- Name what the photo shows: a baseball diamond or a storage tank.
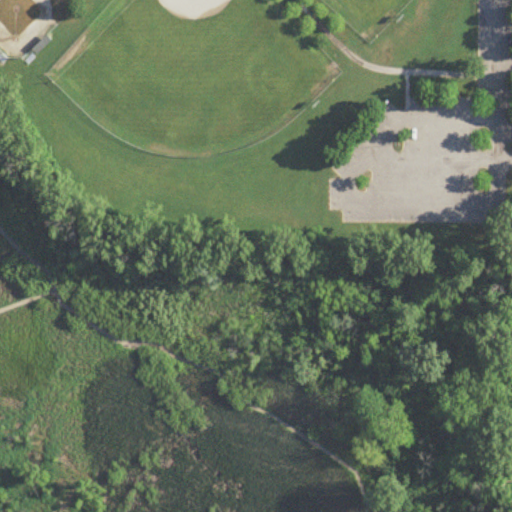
baseball diamond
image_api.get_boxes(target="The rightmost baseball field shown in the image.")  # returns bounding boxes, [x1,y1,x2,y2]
[322,0,412,42]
